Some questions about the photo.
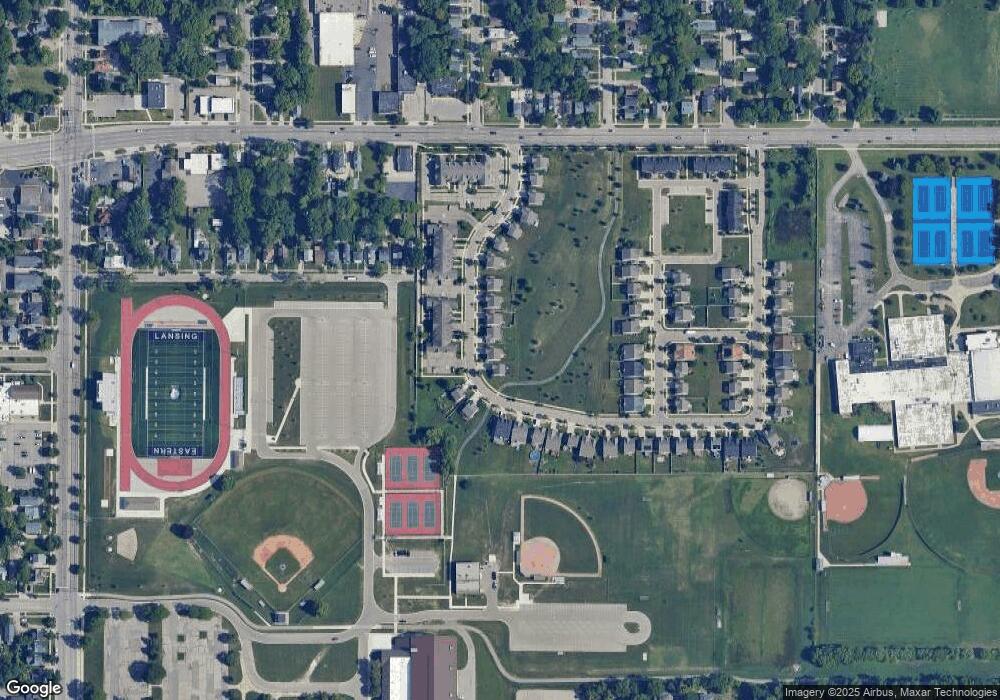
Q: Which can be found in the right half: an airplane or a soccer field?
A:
soccer field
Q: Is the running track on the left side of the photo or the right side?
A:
left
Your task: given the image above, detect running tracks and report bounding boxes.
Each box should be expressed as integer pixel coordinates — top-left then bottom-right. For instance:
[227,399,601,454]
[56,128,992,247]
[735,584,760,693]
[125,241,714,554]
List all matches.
[121,295,231,491]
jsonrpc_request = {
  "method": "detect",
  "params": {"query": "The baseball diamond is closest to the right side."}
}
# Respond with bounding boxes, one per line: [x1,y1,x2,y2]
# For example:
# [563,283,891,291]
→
[968,459,1000,509]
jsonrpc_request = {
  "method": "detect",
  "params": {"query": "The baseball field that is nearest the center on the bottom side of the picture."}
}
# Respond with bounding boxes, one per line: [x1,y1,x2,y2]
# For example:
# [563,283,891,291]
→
[521,495,602,578]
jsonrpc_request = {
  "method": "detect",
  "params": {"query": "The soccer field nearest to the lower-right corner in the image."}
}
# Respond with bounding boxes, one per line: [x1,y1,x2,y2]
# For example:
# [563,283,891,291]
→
[826,568,960,644]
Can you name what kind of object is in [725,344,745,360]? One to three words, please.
house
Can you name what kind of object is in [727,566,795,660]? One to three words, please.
soccer field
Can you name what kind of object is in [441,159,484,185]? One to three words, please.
building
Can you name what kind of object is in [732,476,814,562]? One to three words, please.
baseball field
